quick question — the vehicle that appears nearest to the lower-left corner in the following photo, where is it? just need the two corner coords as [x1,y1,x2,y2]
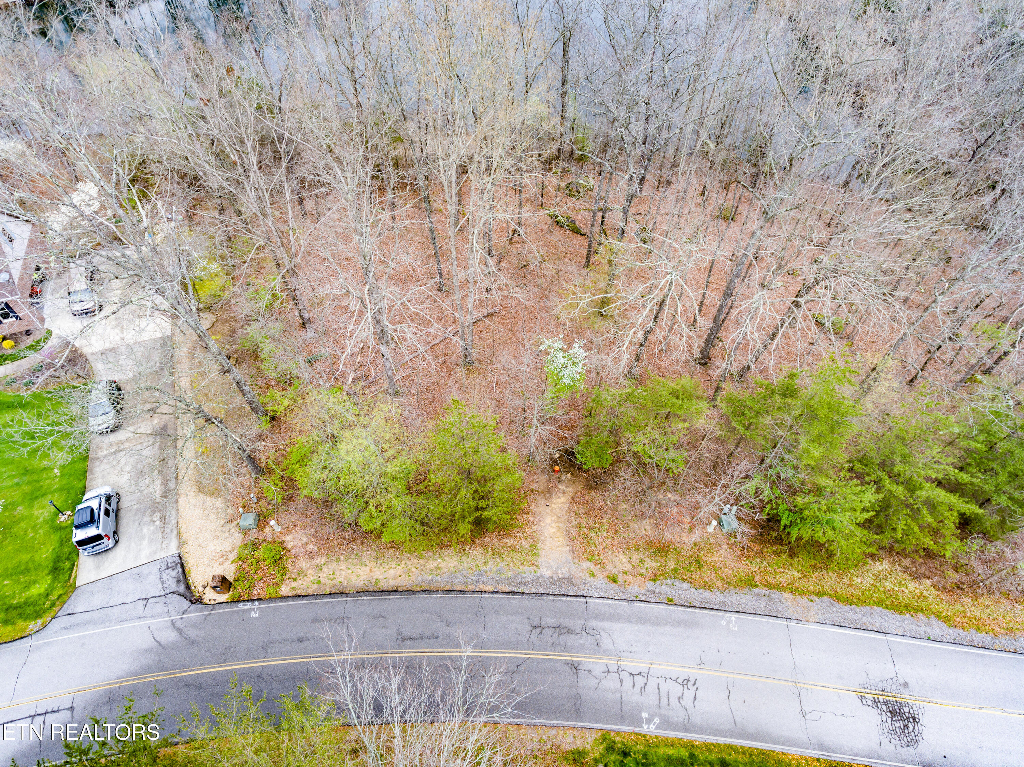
[71,484,118,563]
